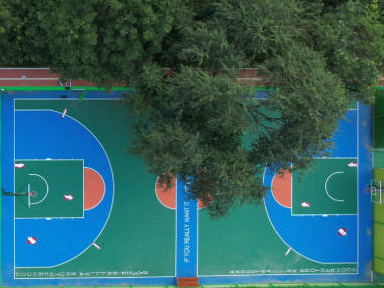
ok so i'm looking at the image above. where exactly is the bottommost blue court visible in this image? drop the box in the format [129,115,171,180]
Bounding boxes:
[0,90,372,288]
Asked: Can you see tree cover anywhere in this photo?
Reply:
Yes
